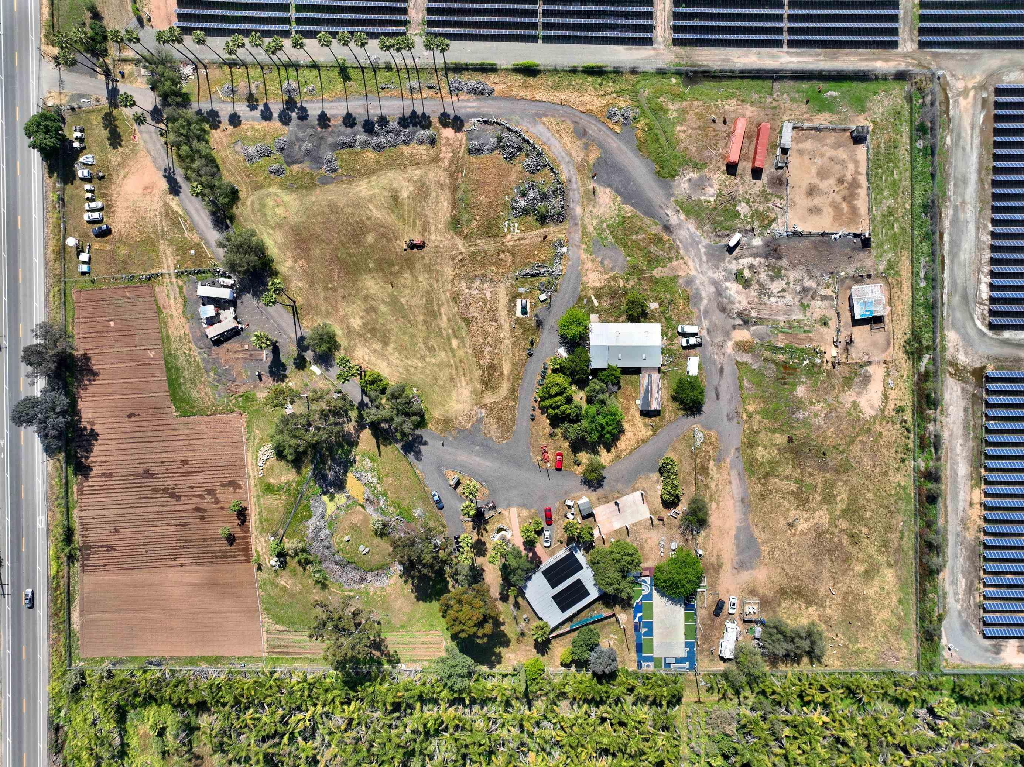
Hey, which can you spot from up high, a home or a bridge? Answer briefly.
home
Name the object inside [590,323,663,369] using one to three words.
house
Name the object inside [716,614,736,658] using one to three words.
camper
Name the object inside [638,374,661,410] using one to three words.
building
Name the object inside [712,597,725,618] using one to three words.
vehicle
